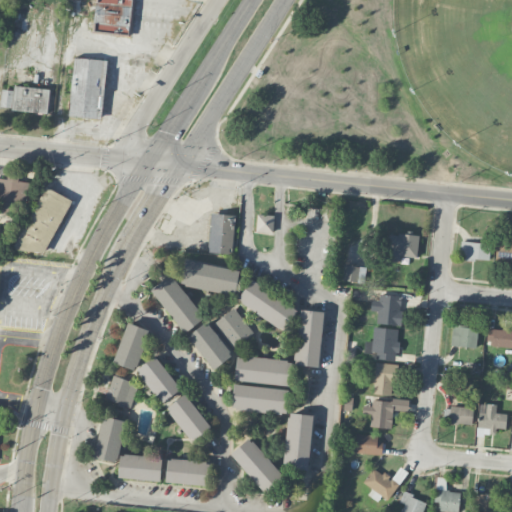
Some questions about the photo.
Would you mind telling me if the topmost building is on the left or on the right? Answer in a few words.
left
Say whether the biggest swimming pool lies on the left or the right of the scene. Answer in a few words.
left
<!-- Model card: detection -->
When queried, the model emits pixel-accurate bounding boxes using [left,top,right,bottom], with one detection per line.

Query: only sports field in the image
[392,0,512,174]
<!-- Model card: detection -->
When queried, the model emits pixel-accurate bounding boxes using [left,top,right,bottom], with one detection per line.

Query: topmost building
[94,0,132,34]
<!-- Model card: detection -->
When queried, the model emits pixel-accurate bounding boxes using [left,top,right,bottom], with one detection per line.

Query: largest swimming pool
[134,402,156,439]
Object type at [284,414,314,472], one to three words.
building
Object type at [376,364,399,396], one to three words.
house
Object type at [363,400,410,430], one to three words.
house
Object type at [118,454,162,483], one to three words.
building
